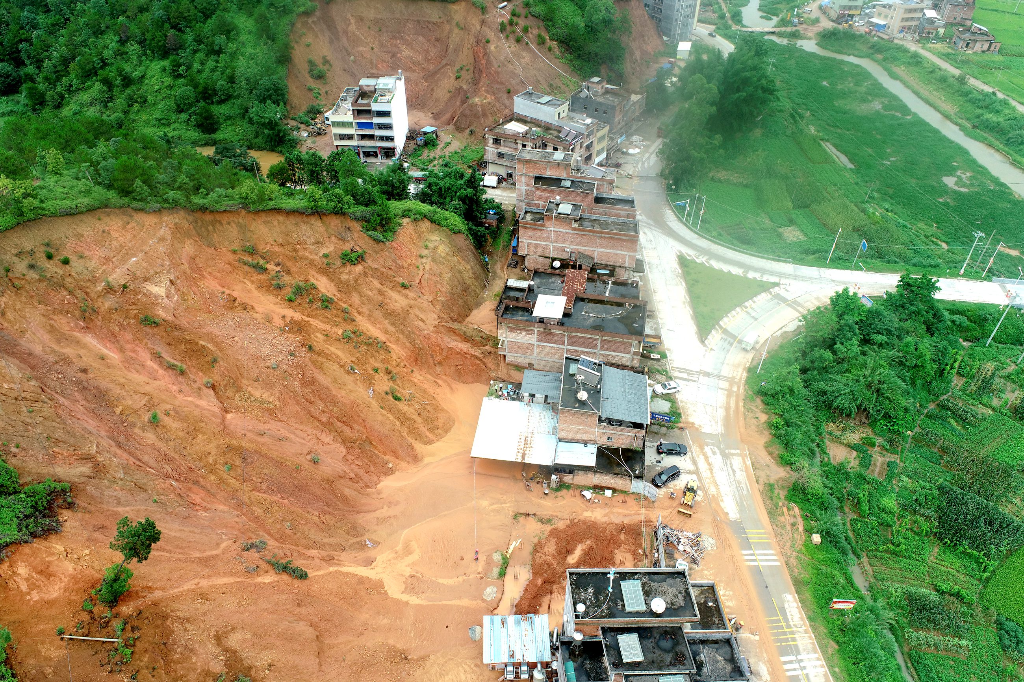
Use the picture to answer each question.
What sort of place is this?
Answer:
residential area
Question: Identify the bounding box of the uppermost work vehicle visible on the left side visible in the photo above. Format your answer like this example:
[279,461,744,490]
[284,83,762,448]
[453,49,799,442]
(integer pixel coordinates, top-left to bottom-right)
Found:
[303,120,327,137]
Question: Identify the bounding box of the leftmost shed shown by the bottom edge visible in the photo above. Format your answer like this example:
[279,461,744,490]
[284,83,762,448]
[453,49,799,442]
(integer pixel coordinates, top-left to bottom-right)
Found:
[483,614,551,675]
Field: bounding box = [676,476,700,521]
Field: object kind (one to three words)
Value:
work vehicle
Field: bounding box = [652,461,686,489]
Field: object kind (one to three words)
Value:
car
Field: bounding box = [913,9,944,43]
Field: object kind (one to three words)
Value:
house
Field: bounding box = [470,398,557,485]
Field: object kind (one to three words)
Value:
shed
